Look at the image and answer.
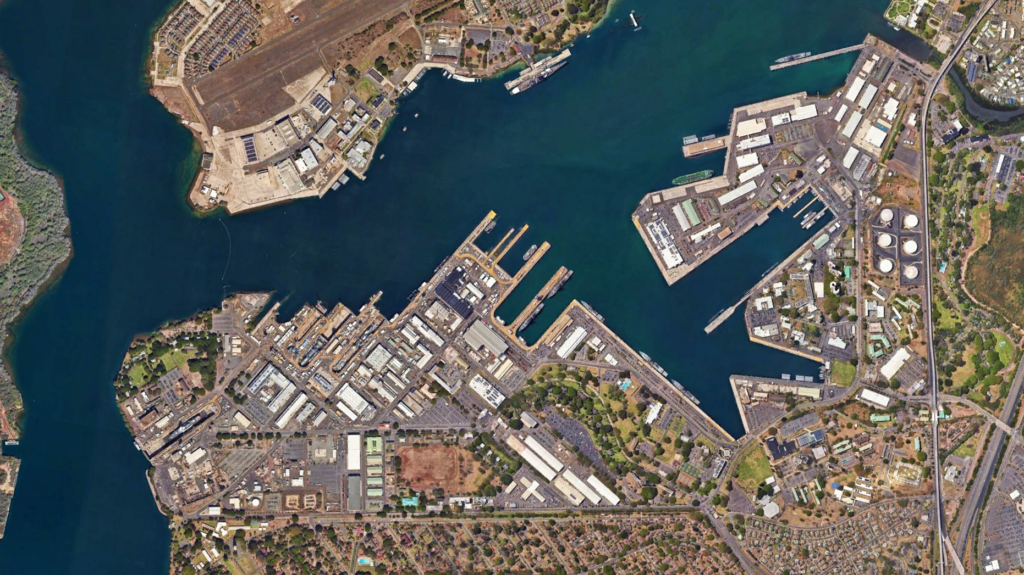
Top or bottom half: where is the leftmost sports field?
bottom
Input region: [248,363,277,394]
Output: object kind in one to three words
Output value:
building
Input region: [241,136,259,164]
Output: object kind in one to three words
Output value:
hangar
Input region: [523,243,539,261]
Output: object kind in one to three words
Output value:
ship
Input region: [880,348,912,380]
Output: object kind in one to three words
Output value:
building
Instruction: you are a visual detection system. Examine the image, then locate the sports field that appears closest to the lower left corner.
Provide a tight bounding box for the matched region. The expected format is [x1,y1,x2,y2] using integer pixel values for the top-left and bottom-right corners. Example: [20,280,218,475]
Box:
[398,444,460,492]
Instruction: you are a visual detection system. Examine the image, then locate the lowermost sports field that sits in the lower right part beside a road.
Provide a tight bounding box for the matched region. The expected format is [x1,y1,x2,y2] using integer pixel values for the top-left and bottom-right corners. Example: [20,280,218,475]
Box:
[737,446,773,490]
